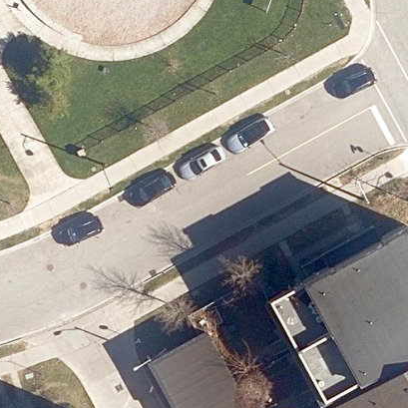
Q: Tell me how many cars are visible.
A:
5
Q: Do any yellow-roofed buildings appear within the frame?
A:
No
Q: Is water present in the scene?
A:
No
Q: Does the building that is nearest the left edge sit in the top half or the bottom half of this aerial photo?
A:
bottom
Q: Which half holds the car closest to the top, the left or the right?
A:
right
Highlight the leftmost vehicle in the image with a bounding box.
[57,213,105,248]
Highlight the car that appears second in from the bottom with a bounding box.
[130,172,178,208]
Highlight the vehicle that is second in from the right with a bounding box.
[229,117,277,153]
